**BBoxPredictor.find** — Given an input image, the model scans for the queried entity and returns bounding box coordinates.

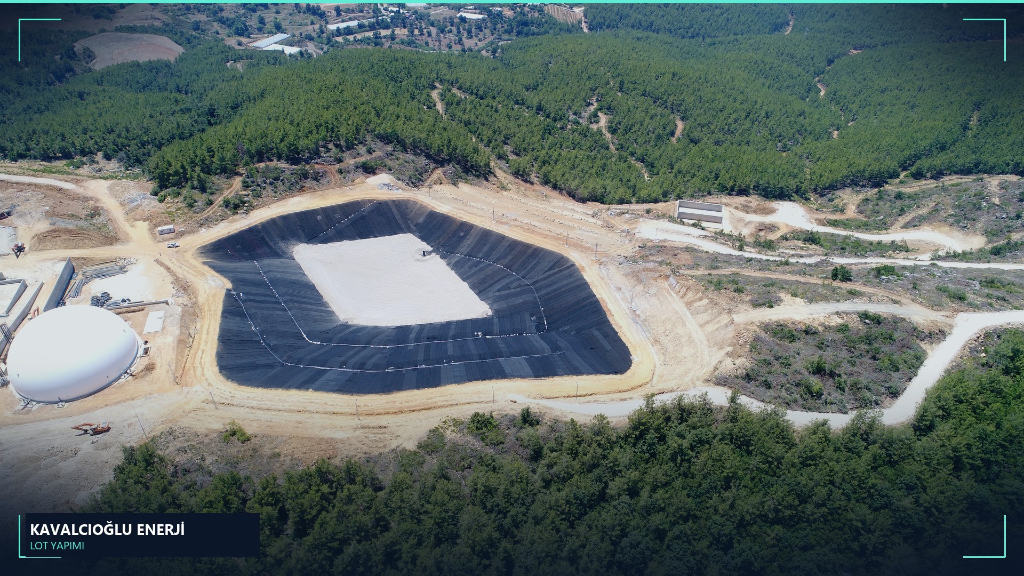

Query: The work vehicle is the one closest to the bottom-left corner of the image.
[72,421,113,437]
